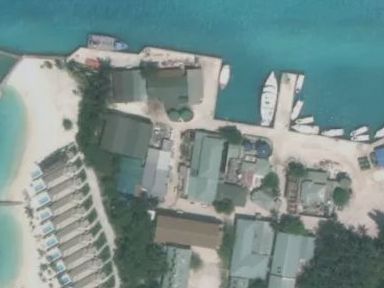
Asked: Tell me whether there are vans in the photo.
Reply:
No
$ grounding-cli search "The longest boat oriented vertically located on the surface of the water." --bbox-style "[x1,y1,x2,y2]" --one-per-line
[261,72,277,127]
